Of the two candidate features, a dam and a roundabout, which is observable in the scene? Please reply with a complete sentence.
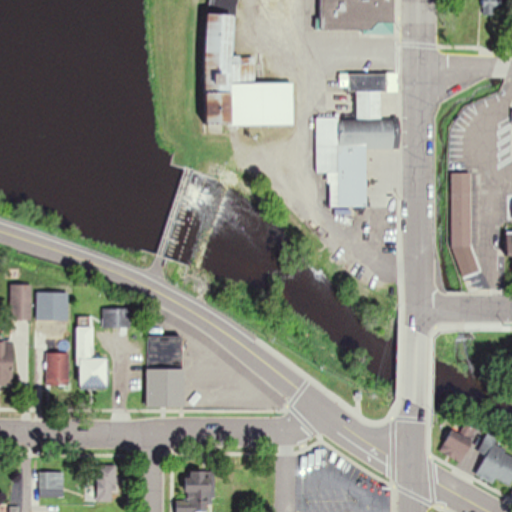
The image shows a dam.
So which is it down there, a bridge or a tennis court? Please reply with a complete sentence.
Of the two, only a bridge appears.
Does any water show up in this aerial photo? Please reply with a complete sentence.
Yes, the picture does contain water.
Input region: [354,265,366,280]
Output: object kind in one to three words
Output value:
vehicle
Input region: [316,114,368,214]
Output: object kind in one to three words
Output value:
building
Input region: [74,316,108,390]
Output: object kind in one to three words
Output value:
house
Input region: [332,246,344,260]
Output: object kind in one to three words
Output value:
vehicle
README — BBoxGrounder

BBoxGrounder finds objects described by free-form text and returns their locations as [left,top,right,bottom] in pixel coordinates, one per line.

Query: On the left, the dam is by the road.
[139,153,228,275]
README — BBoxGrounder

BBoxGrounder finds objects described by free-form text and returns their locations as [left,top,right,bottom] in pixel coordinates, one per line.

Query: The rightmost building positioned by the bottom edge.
[477,432,512,493]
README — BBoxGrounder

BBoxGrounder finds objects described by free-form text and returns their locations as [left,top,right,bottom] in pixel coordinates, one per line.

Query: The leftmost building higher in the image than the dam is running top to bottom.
[206,0,255,124]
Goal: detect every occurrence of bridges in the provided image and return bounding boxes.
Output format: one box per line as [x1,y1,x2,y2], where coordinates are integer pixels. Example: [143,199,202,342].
[396,328,435,400]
